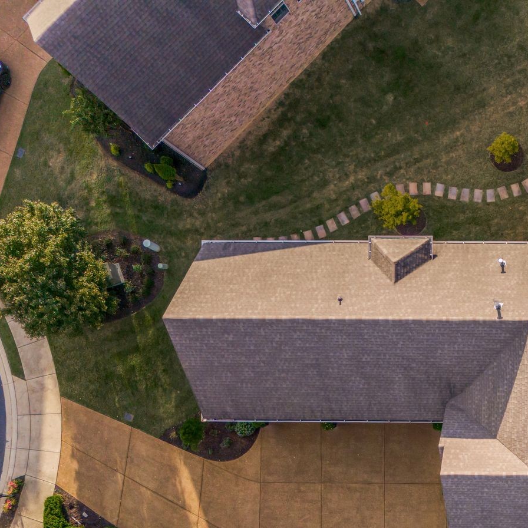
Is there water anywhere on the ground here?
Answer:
No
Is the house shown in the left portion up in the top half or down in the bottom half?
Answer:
top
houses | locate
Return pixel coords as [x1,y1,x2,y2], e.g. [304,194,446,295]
[167,233,528,528]
[22,0,371,167]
